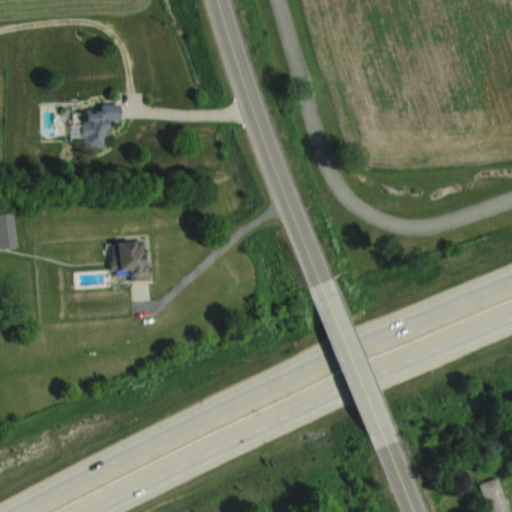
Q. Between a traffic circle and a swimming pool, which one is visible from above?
swimming pool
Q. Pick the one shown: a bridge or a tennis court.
bridge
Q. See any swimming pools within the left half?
Yes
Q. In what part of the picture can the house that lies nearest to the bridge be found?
bottom right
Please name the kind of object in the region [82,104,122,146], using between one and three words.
house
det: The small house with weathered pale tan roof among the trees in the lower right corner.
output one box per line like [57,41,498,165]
[479,483,508,512]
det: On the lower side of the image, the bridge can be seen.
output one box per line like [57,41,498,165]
[309,276,400,452]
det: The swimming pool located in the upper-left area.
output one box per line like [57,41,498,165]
[40,104,66,138]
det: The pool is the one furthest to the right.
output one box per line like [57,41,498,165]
[74,269,112,290]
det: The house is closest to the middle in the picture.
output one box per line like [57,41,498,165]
[104,239,152,282]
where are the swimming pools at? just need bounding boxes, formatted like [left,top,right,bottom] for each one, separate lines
[40,104,66,138]
[74,269,112,290]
